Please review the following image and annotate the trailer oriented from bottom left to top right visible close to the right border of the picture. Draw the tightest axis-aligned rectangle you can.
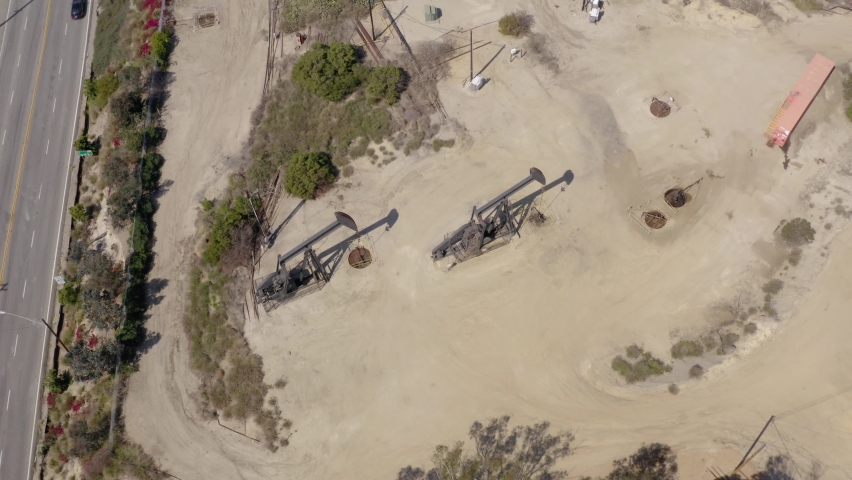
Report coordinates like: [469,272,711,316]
[758,54,838,154]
